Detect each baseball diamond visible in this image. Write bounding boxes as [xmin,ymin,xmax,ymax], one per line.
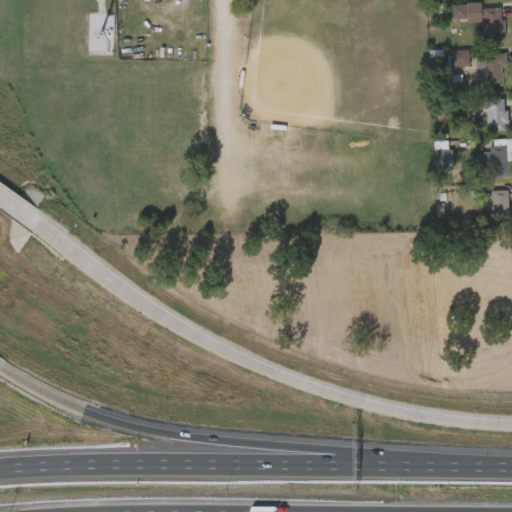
[244,0,432,132]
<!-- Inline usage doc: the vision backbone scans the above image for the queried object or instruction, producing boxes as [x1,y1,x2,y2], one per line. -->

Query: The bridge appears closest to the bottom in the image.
[0,182,94,253]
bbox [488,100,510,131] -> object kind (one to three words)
house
